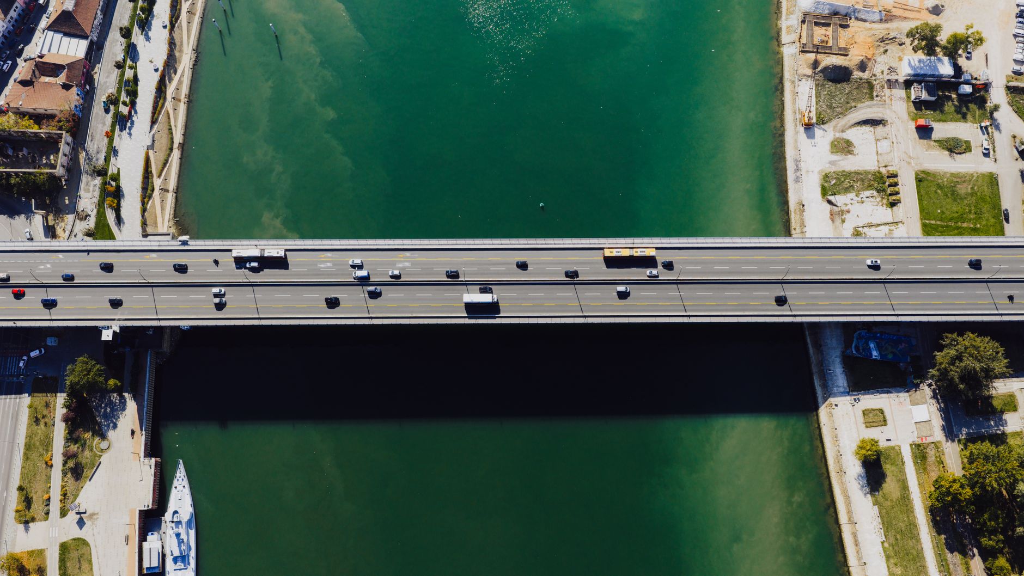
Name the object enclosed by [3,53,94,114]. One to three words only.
house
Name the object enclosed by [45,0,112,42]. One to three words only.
house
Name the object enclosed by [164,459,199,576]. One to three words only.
ship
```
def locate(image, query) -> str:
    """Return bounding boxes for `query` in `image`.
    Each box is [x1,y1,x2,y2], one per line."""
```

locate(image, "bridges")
[0,236,1024,327]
